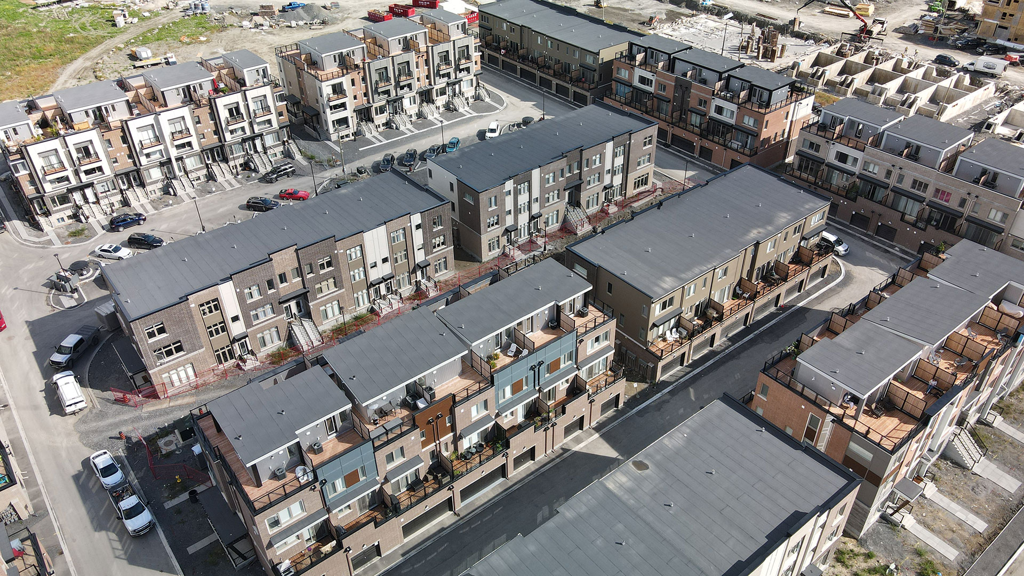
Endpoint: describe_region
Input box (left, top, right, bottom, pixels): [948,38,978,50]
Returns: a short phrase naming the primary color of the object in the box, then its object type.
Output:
black vehicle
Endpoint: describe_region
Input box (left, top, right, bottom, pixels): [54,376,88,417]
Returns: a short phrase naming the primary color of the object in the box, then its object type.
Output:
white truck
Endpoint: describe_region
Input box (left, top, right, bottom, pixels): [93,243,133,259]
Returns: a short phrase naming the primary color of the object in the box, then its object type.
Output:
white car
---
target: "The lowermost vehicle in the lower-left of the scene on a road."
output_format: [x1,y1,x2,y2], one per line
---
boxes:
[106,479,154,536]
